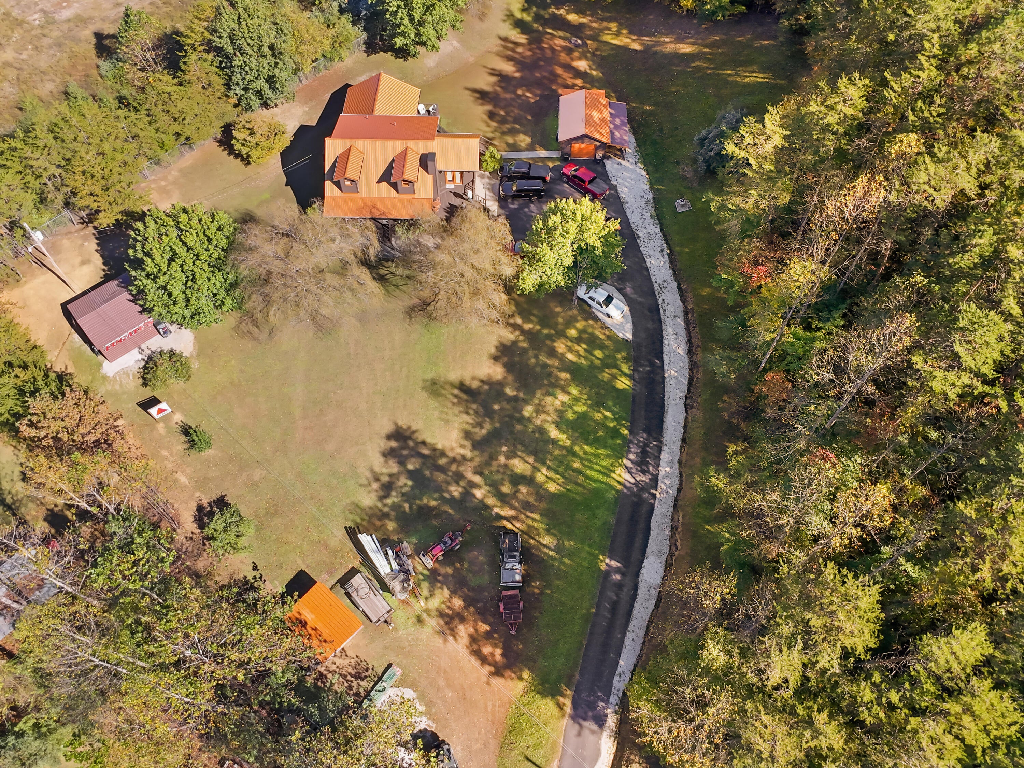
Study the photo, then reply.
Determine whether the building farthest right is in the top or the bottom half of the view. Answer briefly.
top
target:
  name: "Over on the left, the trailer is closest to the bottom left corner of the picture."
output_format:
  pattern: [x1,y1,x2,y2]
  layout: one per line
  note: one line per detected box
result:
[344,572,395,627]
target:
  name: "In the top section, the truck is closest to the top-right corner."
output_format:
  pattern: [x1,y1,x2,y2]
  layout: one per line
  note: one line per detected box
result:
[556,167,614,200]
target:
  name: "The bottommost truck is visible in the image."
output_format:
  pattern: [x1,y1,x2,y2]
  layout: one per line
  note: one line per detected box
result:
[426,731,469,768]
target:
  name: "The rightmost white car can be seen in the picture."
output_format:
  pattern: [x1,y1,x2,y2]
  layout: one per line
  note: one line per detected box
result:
[573,280,629,316]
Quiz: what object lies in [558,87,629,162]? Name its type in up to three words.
building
